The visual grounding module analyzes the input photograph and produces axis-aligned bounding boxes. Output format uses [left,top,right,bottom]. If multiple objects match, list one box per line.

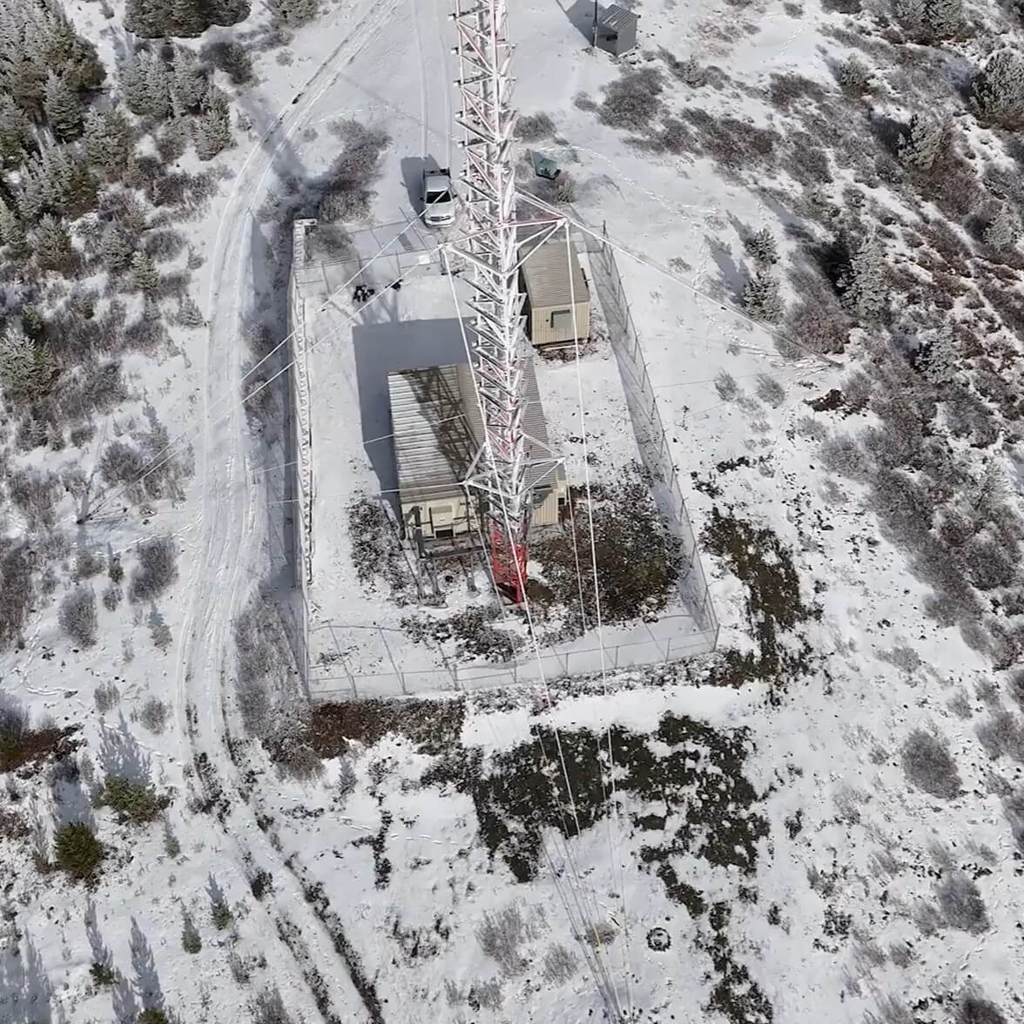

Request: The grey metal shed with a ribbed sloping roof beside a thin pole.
[592,3,642,58]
